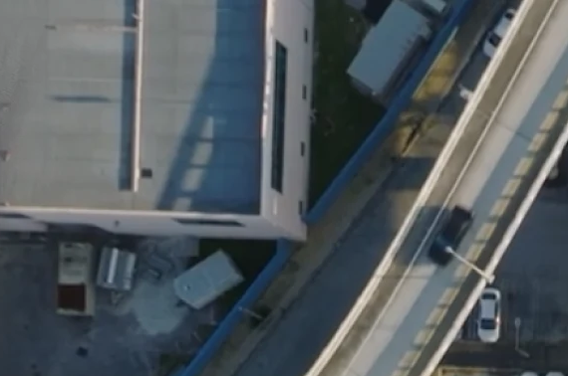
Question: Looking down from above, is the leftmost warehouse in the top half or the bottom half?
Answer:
top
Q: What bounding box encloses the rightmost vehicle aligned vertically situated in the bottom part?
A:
[475,287,501,342]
